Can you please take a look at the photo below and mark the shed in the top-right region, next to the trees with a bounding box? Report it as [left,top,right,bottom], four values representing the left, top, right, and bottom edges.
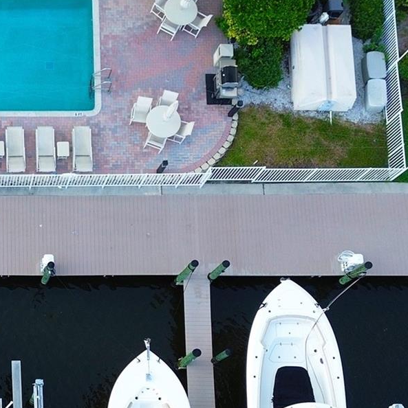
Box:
[290,21,361,110]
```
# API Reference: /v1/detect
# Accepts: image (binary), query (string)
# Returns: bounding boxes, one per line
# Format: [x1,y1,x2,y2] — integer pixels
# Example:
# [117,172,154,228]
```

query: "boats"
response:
[239,274,343,408]
[106,335,189,408]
